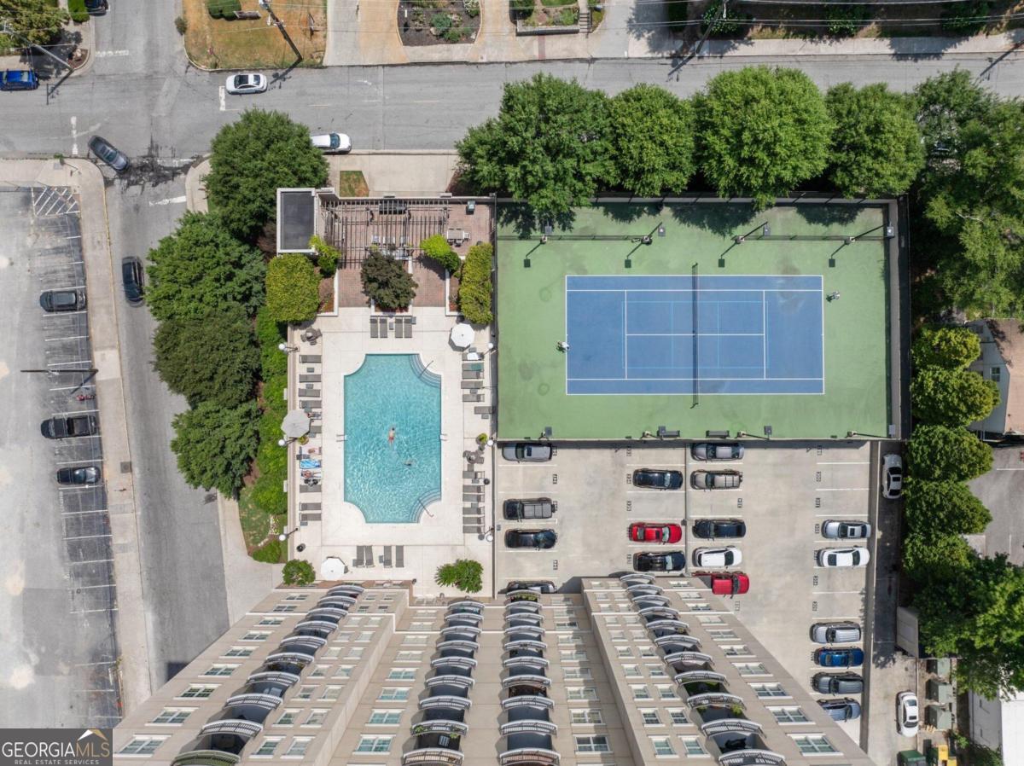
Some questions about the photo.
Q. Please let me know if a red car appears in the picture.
Yes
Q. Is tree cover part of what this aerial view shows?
Yes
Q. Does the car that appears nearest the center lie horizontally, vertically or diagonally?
horizontally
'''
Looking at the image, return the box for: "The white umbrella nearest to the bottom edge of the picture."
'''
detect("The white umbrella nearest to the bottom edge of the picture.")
[323,555,346,578]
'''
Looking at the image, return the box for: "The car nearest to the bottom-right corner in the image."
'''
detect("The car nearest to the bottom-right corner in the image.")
[896,690,922,736]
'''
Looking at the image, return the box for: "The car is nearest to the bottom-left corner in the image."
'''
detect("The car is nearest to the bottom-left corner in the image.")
[57,466,103,486]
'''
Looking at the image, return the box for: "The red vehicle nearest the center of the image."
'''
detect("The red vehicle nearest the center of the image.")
[629,523,681,546]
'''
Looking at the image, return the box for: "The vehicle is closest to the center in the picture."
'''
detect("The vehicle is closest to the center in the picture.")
[502,442,553,466]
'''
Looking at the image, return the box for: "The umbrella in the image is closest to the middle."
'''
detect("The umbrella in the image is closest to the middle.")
[452,324,474,347]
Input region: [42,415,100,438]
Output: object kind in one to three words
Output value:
truck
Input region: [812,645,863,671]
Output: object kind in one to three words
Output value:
car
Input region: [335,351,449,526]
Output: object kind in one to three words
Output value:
swimming pool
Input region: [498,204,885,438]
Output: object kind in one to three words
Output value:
tennis court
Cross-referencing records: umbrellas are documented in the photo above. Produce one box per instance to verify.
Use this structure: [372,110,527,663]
[452,324,474,347]
[283,410,311,438]
[323,555,346,578]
